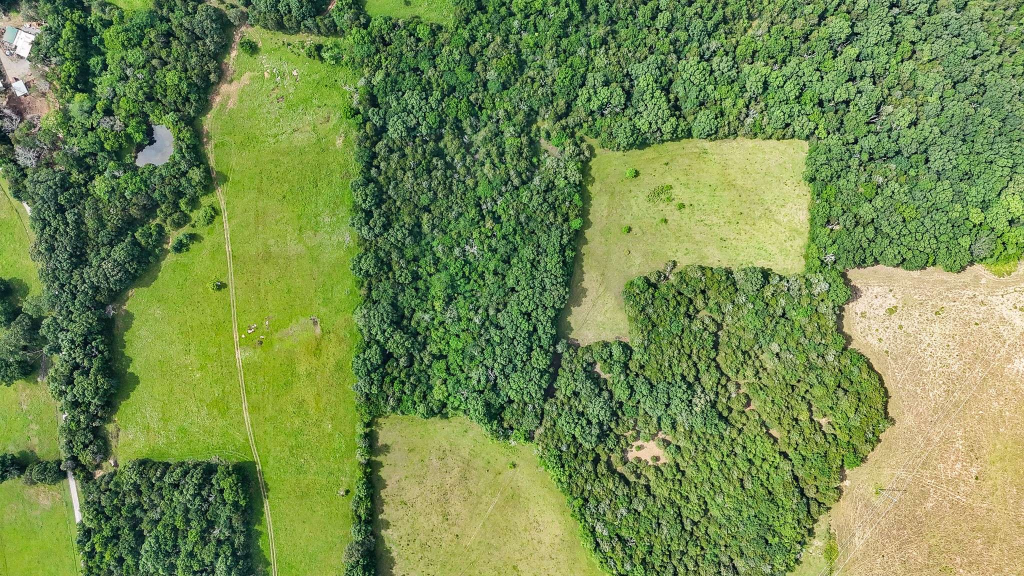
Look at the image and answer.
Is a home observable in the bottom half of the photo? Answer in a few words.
No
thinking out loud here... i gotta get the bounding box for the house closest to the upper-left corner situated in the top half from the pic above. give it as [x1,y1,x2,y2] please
[2,26,35,56]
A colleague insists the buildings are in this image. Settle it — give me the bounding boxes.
[2,26,35,56]
[12,80,31,98]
